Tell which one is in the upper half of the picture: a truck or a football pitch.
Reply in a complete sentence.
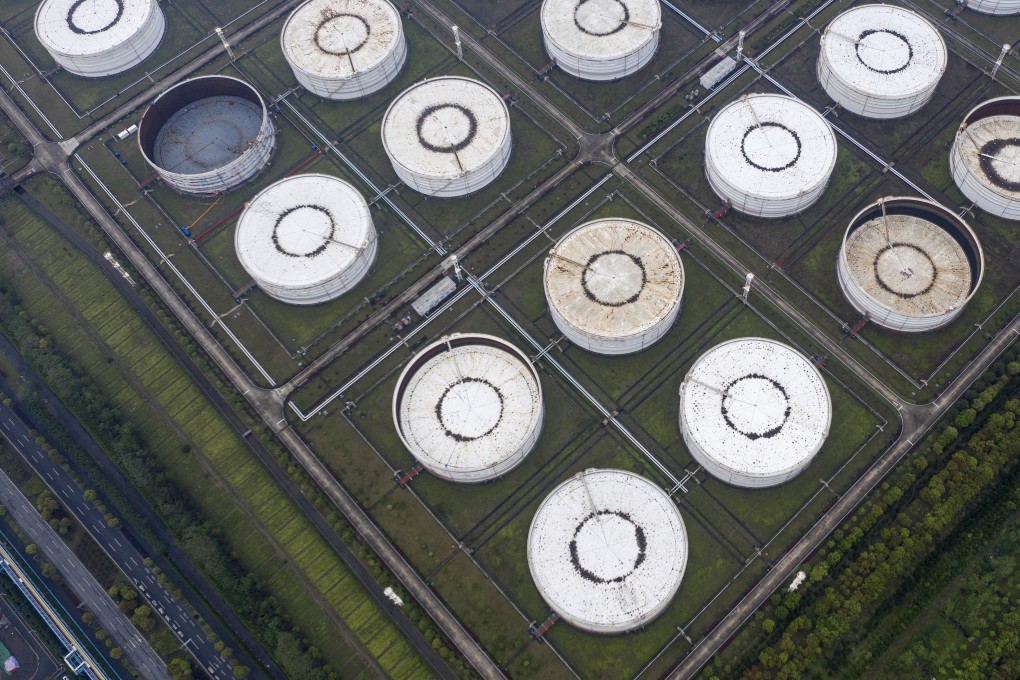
What appears in the upper half of the picture is a truck.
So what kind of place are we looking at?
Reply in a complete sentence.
What you see here is an industrial area.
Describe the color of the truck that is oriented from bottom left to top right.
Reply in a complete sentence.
The truck that is oriented from bottom left to top right is blue.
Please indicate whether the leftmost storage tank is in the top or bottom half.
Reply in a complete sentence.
Seen from above, the leftmost storage tank lies in the top half of the view.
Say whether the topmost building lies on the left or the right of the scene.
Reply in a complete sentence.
It is on the right.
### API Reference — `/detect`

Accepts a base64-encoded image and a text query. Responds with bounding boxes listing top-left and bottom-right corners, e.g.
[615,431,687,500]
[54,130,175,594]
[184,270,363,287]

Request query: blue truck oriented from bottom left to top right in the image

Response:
[181,194,224,235]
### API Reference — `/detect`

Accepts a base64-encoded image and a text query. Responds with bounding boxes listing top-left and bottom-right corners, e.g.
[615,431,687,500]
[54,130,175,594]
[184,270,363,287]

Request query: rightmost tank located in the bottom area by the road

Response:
[675,336,833,492]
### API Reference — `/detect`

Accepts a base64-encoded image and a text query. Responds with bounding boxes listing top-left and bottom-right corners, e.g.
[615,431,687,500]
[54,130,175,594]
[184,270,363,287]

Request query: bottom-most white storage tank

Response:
[526,468,690,640]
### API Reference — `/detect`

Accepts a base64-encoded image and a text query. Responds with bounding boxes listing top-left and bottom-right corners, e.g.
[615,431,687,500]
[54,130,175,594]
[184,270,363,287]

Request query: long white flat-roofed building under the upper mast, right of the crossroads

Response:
[699,56,736,89]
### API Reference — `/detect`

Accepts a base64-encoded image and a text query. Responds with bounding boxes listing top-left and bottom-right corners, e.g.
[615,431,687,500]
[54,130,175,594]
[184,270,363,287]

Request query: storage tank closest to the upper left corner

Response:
[33,0,168,78]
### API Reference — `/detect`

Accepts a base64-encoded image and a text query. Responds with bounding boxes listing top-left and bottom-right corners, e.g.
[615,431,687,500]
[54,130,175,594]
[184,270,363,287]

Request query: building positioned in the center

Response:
[411,276,456,316]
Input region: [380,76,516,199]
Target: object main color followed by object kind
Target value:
white storage tank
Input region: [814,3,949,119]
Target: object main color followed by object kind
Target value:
white storage tank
